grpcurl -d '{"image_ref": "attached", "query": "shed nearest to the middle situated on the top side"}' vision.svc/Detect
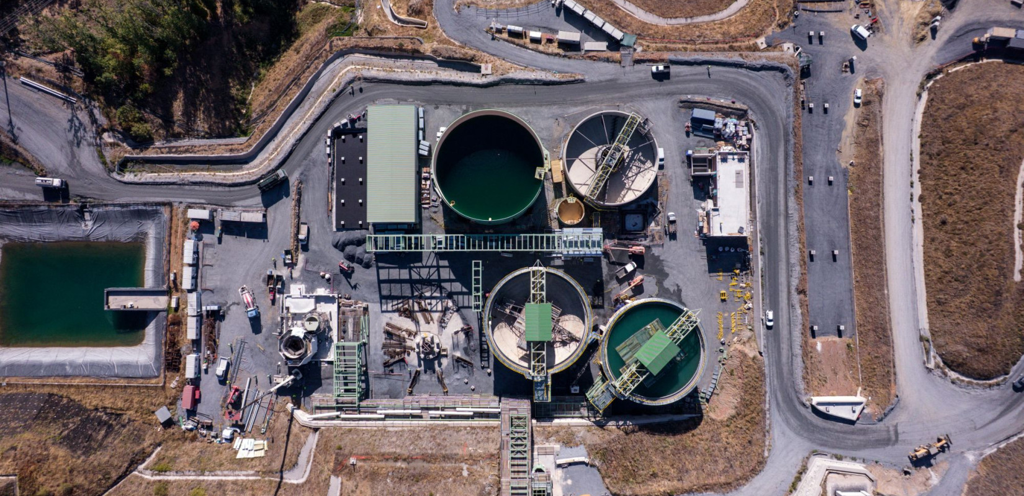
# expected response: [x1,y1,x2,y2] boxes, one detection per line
[367,103,421,223]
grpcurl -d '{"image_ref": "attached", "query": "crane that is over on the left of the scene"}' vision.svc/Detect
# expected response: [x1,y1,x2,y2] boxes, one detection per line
[231,367,305,415]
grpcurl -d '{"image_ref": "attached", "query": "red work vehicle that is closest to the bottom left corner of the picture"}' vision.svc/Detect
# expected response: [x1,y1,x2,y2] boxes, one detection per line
[223,386,241,406]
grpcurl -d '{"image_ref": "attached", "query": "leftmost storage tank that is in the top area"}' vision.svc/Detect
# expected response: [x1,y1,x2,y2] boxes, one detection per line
[428,109,550,224]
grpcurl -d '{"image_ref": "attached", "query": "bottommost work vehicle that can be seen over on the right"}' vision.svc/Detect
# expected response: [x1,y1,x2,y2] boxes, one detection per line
[904,436,947,462]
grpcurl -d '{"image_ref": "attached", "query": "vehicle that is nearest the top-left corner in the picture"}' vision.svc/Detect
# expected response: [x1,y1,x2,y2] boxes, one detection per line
[33,176,68,190]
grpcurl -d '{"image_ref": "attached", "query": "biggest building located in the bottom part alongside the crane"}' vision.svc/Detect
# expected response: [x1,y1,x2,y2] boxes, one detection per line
[277,284,341,367]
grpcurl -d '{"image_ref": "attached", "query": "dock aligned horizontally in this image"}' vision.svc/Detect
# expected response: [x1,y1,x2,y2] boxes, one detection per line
[104,287,169,311]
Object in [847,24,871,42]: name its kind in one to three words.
vehicle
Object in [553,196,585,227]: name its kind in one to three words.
storage tank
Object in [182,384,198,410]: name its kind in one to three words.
building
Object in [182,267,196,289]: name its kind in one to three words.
building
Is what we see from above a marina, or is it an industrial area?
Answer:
industrial area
